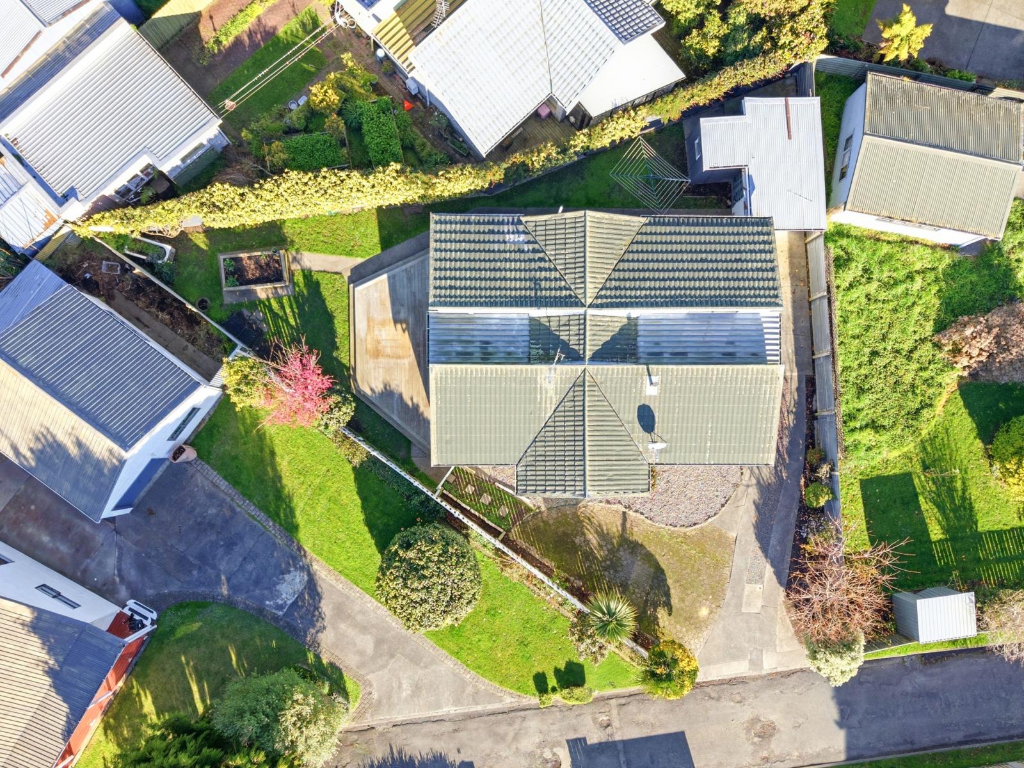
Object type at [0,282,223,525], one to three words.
house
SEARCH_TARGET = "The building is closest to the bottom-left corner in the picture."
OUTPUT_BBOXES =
[0,544,161,768]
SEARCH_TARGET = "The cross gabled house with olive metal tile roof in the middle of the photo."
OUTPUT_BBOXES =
[428,209,785,499]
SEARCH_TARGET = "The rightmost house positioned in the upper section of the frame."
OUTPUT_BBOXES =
[832,69,1024,247]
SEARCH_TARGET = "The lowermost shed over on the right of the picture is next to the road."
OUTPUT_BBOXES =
[892,580,977,643]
